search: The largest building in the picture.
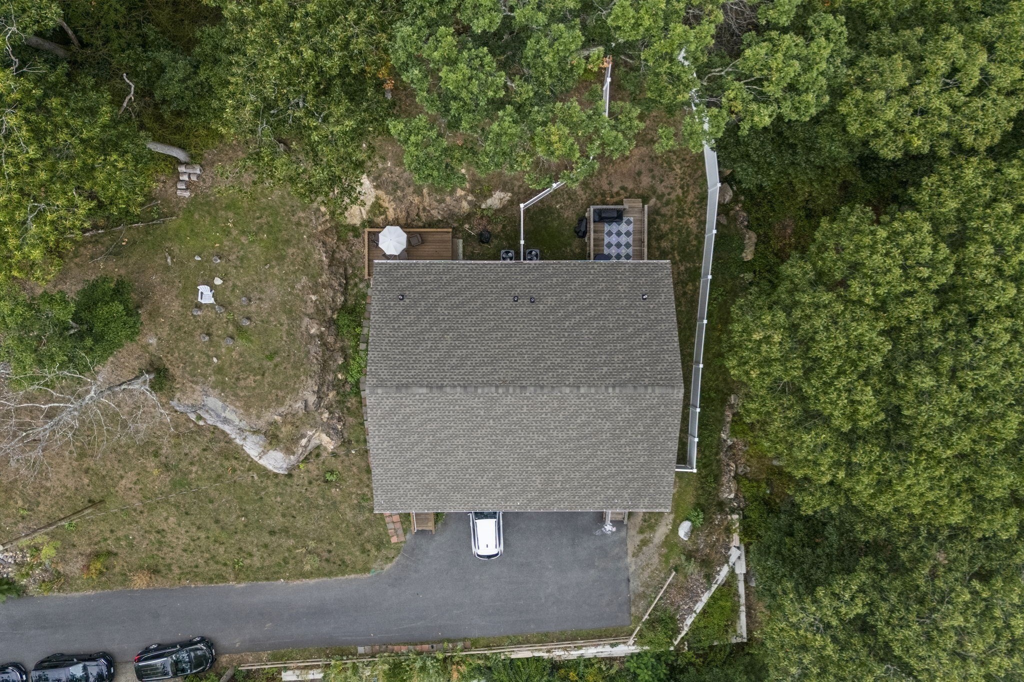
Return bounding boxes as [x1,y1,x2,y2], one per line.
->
[365,259,683,515]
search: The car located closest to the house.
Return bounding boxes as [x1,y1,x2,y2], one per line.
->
[470,514,504,560]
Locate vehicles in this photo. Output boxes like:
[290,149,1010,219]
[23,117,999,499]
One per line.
[30,650,118,682]
[470,514,504,560]
[0,664,30,682]
[132,636,216,682]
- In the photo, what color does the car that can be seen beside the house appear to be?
white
